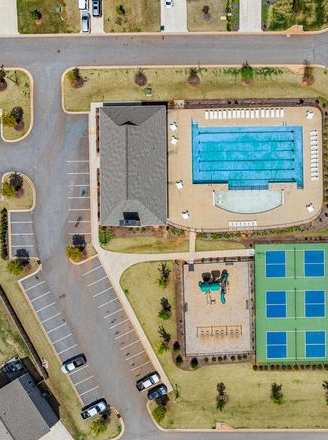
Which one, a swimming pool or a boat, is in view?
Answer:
swimming pool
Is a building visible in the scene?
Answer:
Yes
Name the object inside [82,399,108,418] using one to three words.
vehicle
